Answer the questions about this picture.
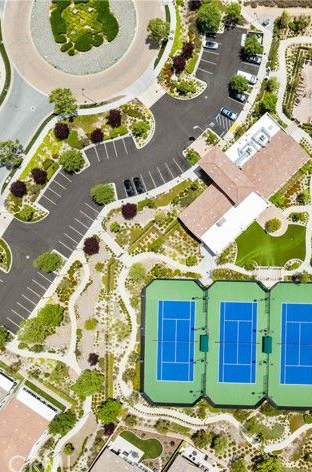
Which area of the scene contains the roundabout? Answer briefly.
top left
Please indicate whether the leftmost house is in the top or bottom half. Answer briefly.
bottom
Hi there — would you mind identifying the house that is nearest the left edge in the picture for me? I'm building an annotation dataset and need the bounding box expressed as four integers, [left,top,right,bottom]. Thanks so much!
[0,366,22,414]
